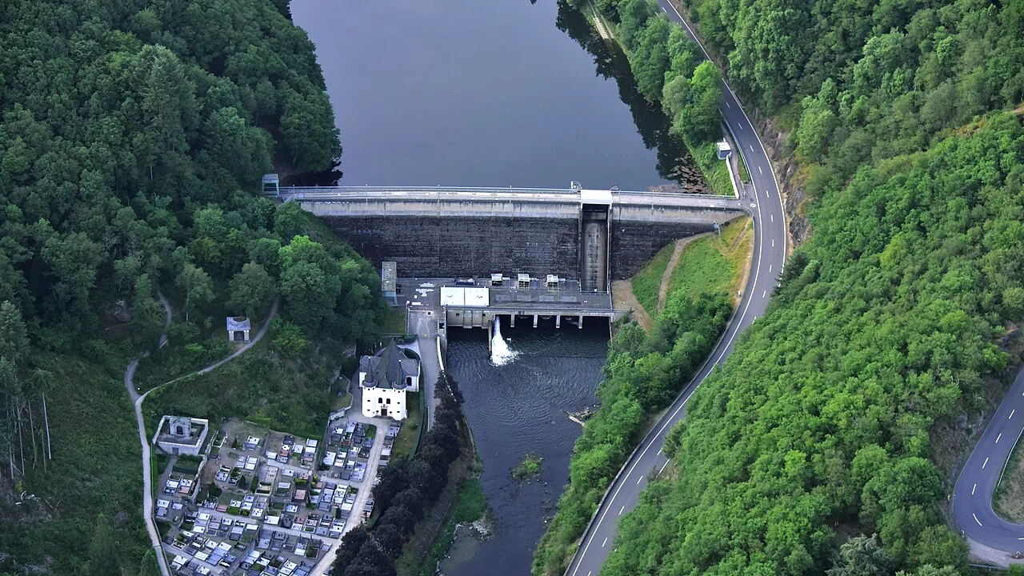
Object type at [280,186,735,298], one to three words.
dam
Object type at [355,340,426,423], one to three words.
building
